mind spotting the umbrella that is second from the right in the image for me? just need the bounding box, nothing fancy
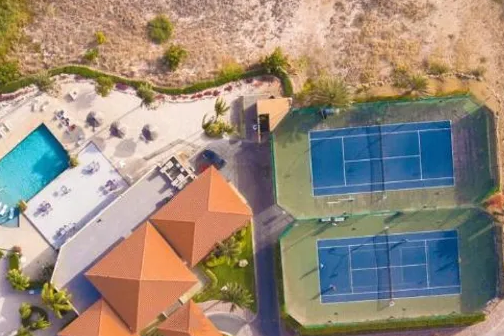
[107,122,125,139]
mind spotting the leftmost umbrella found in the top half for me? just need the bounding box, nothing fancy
[86,111,104,129]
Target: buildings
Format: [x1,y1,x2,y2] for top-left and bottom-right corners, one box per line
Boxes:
[50,154,252,336]
[255,98,290,144]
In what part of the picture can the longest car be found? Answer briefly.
center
